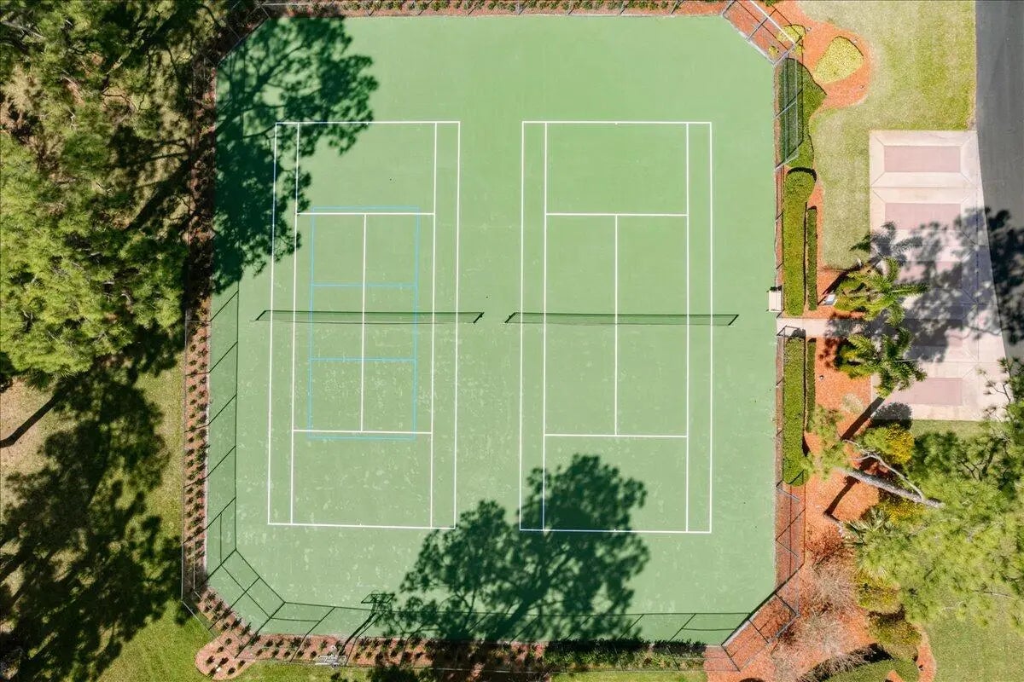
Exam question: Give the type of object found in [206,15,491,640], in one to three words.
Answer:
tennis court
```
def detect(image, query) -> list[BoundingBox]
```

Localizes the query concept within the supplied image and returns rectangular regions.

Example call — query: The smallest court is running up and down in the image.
[309,206,419,440]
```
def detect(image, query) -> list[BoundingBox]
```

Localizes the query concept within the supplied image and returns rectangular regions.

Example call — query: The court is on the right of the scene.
[487,14,776,646]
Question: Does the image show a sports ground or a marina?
sports ground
